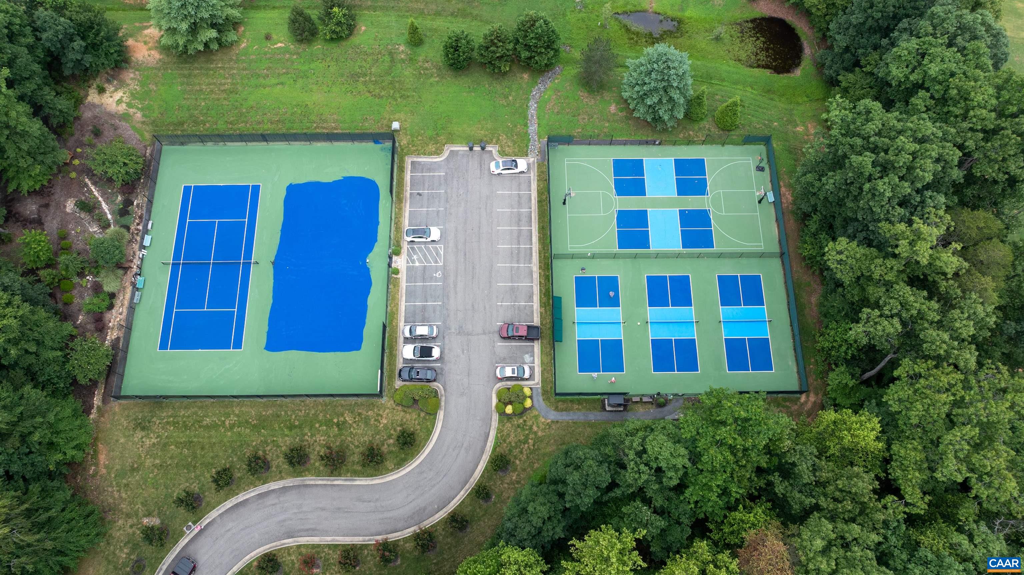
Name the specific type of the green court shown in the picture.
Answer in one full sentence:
In the photo, the green court shows up as a basketball court.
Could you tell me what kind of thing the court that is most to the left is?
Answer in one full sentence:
The court that is most to the left can be classified as a tennis court.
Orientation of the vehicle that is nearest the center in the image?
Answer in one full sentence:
From this overhead view, the vehicle that is nearest the center appears to run horizontally.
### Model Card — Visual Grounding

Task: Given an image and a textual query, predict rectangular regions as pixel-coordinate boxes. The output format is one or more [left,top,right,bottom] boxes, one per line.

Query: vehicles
[168,554,199,575]
[398,365,437,382]
[498,322,542,342]
[402,324,438,341]
[404,227,440,244]
[495,365,532,381]
[402,344,441,361]
[491,159,527,177]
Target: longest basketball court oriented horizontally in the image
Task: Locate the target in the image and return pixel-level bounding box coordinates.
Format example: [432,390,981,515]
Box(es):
[565,157,764,250]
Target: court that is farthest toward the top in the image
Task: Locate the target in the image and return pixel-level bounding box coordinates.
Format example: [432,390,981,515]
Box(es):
[612,157,710,197]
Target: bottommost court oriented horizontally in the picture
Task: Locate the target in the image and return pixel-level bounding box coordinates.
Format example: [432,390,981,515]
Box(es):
[615,208,715,250]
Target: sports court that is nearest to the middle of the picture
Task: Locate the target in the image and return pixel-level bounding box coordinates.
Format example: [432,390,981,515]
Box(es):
[574,275,625,374]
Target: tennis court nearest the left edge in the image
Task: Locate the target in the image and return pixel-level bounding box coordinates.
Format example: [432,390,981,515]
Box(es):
[157,184,261,351]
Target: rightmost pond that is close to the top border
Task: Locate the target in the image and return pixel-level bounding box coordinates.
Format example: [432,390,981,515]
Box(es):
[731,17,802,75]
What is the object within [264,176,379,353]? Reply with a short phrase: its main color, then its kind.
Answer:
blue tennis court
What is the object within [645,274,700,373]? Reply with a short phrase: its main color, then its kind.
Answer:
blue sports court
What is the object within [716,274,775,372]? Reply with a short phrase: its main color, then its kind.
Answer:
blue sports court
